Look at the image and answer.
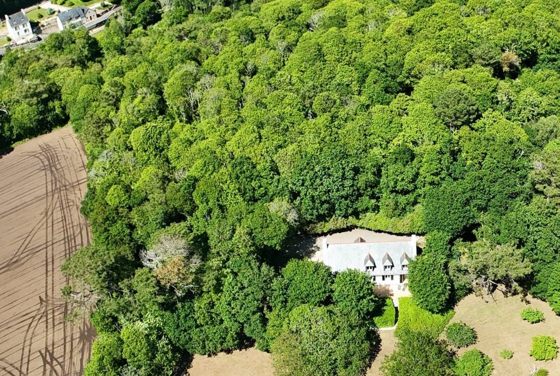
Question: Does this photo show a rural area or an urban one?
rural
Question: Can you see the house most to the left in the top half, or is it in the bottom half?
top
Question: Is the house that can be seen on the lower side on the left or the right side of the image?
right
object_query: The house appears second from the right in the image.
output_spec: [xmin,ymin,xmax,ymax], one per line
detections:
[58,4,109,34]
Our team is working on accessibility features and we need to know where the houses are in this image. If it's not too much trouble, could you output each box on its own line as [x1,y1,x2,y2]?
[58,4,109,34]
[323,232,417,285]
[3,6,46,50]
